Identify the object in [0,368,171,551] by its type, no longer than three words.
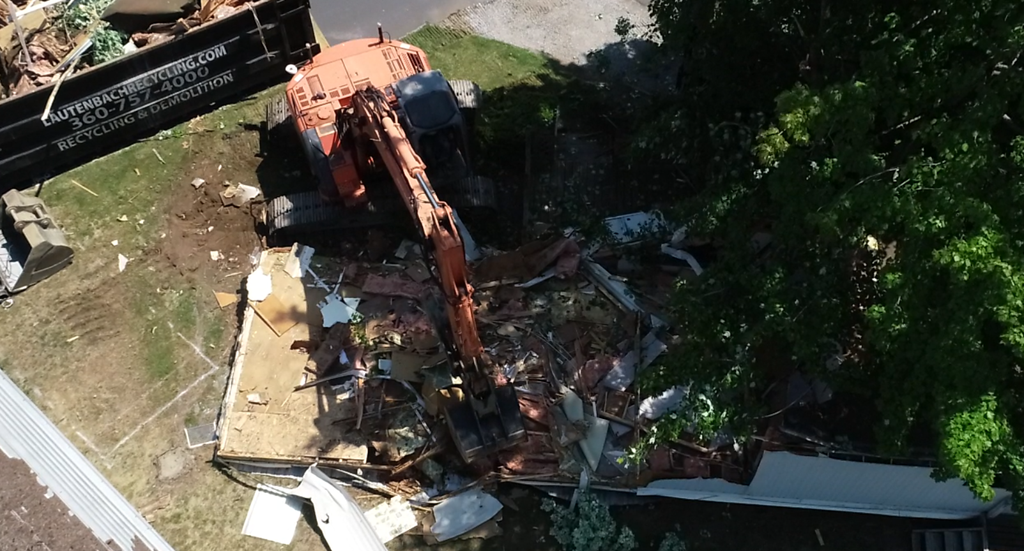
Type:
shed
